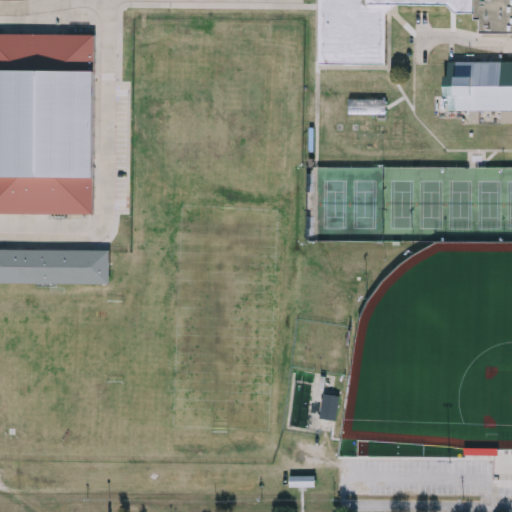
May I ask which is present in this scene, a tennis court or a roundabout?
tennis court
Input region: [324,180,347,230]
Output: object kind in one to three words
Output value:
tennis court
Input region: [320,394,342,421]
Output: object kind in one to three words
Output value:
building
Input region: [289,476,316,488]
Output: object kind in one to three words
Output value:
house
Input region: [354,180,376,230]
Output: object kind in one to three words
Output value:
tennis court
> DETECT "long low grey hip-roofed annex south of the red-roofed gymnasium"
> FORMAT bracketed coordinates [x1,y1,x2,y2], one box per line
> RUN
[0,250,110,288]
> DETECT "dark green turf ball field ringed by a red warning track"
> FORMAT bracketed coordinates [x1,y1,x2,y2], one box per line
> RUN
[343,243,512,448]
